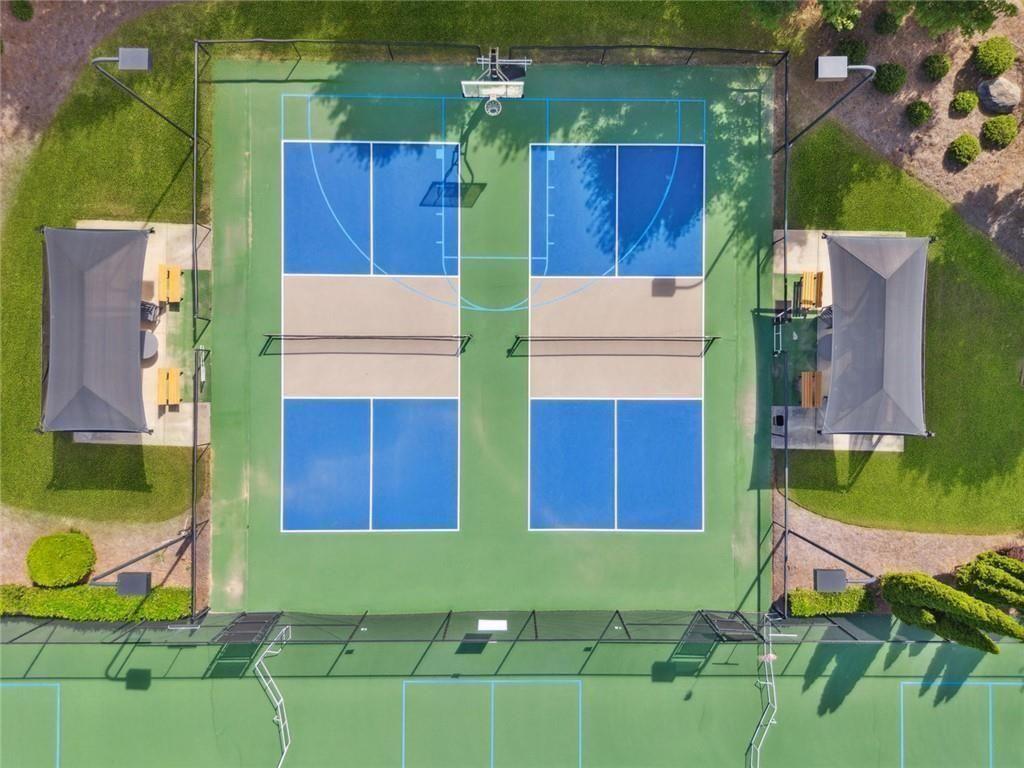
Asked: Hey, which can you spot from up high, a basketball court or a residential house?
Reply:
basketball court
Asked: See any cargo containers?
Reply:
No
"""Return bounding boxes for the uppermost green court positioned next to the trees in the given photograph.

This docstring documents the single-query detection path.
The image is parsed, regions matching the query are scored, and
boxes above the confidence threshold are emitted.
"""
[211,60,774,612]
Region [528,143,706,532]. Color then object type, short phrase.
blue sports court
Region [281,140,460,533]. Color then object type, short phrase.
blue sports court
